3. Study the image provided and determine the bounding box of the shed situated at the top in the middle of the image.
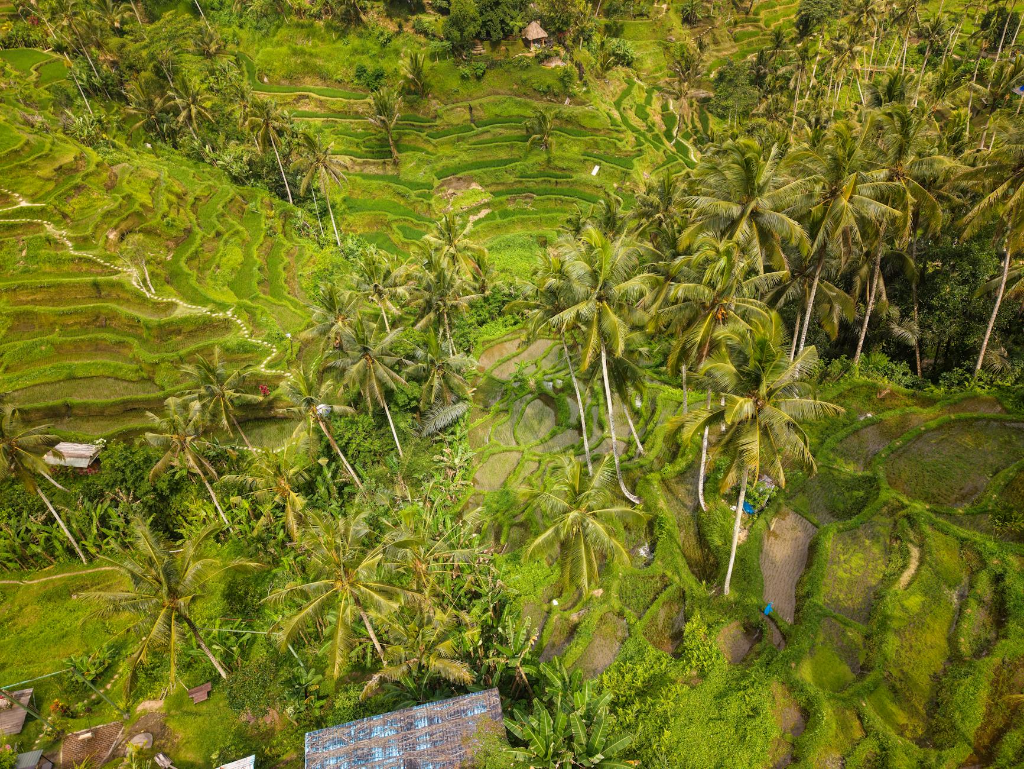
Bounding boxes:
[520,18,551,56]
